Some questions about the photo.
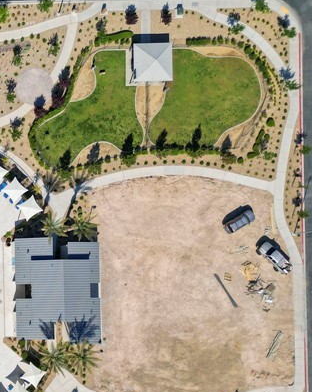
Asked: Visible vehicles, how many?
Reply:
2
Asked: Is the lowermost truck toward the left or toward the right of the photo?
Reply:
right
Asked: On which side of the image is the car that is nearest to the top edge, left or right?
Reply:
right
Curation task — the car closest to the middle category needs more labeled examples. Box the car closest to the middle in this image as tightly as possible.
[222,208,256,231]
